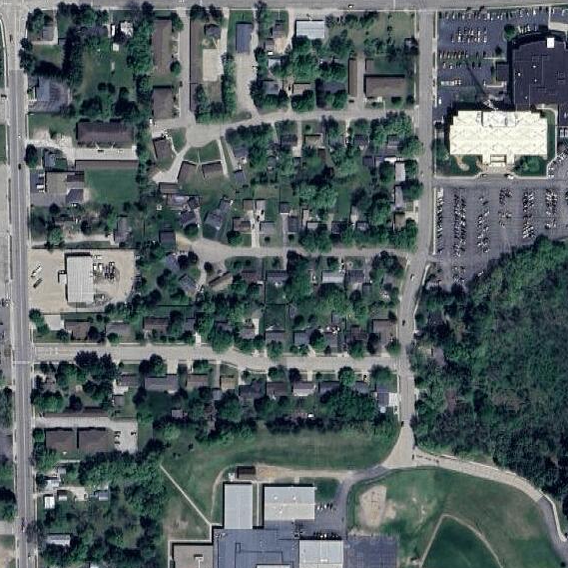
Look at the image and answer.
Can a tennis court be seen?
No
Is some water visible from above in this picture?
No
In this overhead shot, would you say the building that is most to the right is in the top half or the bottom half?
top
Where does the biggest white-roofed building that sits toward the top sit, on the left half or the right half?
right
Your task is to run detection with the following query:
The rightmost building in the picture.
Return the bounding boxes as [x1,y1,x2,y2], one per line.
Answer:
[513,38,568,123]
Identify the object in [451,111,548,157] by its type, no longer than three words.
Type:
building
